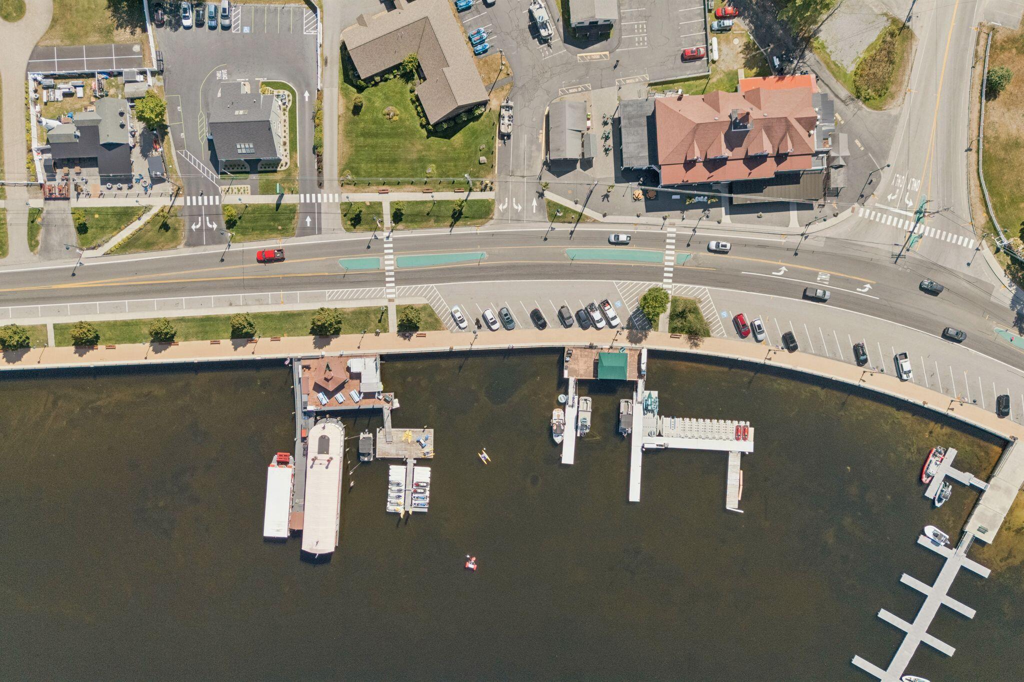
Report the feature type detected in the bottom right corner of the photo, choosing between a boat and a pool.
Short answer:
boat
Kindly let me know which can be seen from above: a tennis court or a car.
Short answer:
car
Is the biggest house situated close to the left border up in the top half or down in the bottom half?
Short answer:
top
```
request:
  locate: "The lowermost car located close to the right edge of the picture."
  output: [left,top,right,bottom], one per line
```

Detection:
[995,394,1011,418]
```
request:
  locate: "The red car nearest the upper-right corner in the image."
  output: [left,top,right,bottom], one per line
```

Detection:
[714,7,739,19]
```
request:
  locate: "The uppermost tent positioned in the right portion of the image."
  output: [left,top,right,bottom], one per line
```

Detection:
[828,133,850,168]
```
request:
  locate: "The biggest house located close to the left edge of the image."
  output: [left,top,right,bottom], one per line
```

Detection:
[47,97,137,175]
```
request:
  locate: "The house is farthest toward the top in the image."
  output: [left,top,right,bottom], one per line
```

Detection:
[570,0,618,39]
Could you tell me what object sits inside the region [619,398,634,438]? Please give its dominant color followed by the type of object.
gray boat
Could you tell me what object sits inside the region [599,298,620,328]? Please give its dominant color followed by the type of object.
white truck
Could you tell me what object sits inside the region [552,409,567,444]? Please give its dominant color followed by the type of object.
white boat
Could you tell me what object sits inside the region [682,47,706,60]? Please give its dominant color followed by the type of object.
red vehicle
